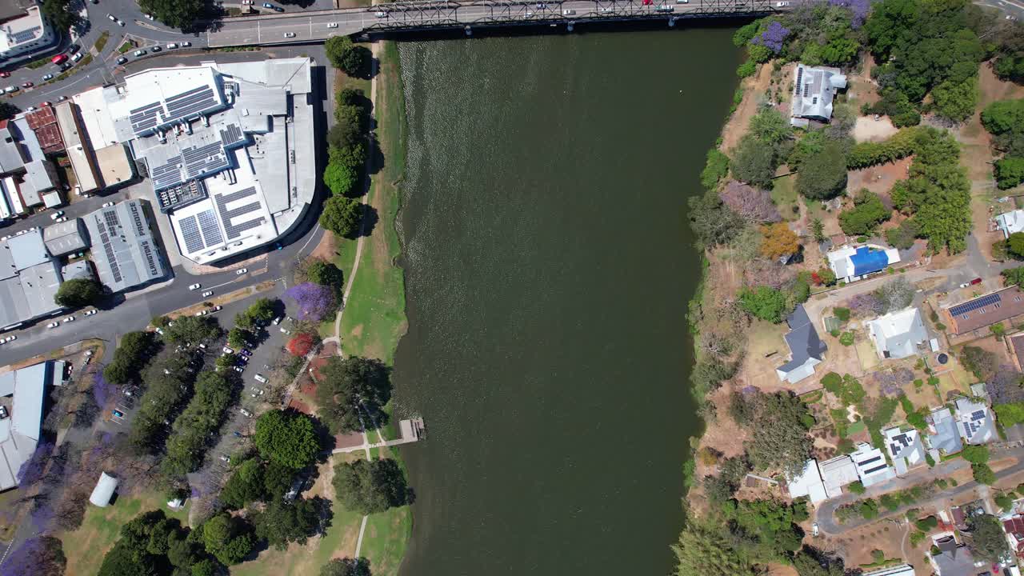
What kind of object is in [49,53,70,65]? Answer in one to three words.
vehicle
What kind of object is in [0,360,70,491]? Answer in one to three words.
building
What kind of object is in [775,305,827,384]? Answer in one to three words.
house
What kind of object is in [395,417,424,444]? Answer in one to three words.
pier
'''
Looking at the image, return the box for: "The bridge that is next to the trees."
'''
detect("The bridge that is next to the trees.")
[188,0,875,49]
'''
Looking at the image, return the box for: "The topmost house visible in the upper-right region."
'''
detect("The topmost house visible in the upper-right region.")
[788,66,847,127]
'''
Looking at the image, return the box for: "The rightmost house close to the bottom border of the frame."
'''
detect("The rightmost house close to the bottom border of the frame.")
[996,508,1024,565]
